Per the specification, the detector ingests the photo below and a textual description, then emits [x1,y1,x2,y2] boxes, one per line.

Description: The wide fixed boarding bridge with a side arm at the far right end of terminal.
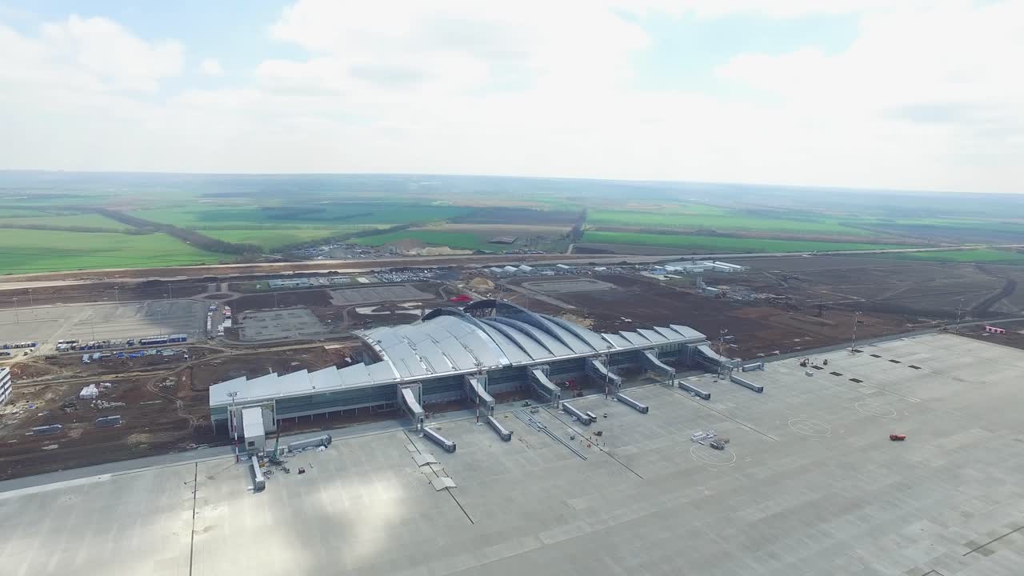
[675,339,743,377]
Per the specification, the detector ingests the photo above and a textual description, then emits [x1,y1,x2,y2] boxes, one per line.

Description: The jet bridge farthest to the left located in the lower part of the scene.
[227,399,277,456]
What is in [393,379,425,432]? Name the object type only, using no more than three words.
jet bridge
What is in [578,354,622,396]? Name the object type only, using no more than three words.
jet bridge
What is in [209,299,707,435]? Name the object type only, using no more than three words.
building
